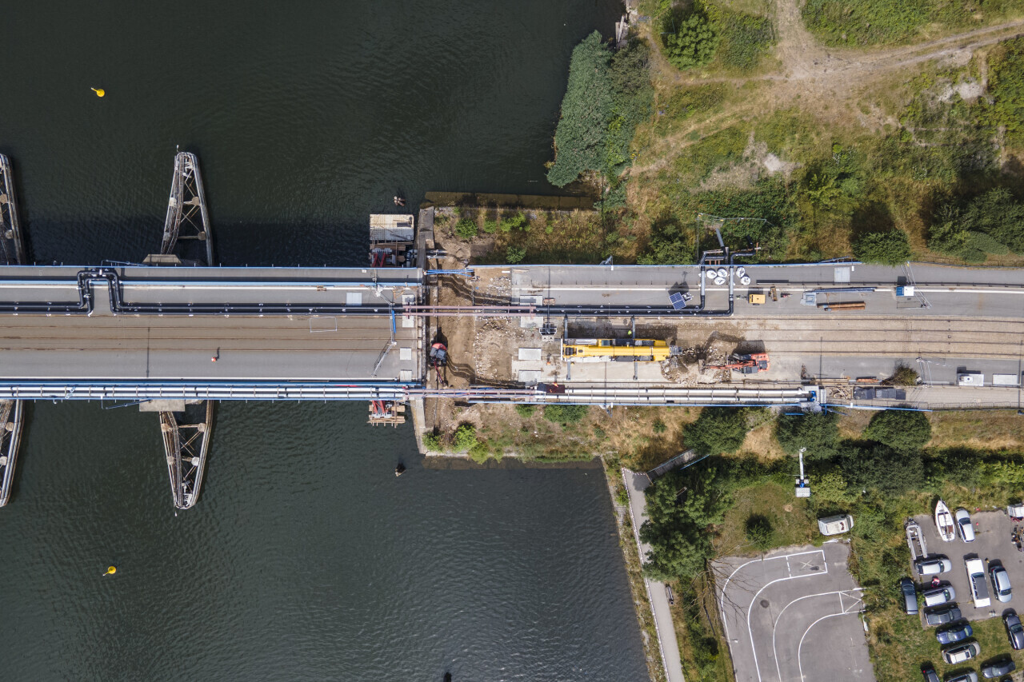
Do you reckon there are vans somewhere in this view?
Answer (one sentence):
Yes, a van appears in the view.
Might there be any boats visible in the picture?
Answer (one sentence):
Yes, there's a boat down there.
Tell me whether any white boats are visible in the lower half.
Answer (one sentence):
Yes, I can see a white boat in the lower half.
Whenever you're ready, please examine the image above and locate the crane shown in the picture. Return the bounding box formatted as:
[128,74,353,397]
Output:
[561,316,682,381]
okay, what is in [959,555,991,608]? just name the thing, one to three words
van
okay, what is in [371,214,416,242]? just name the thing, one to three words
pier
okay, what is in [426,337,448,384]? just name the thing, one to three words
work vehicle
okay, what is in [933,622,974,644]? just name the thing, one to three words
car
